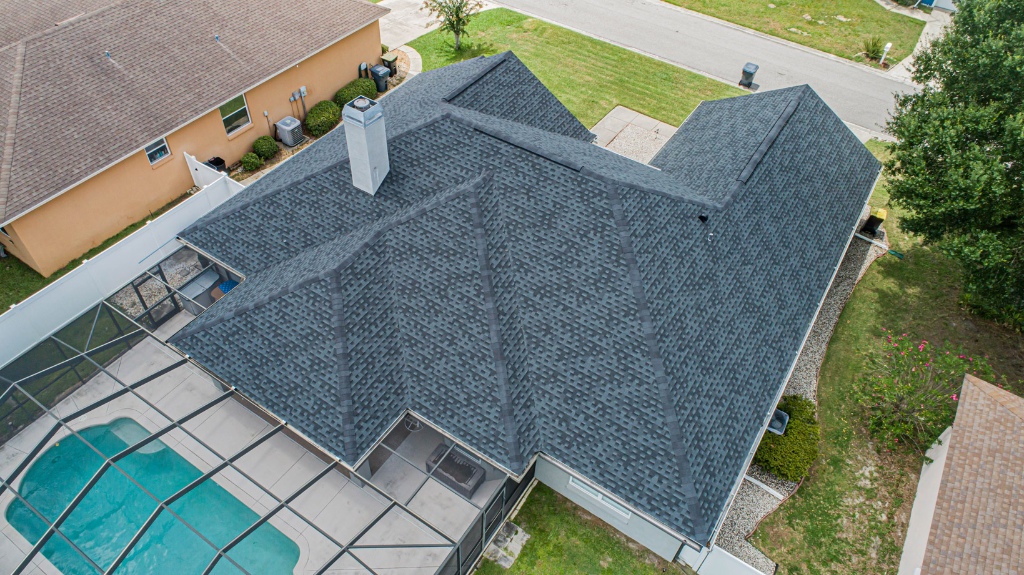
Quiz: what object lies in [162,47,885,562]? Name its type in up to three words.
house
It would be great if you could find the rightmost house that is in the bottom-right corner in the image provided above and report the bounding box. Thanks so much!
[897,373,1024,575]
